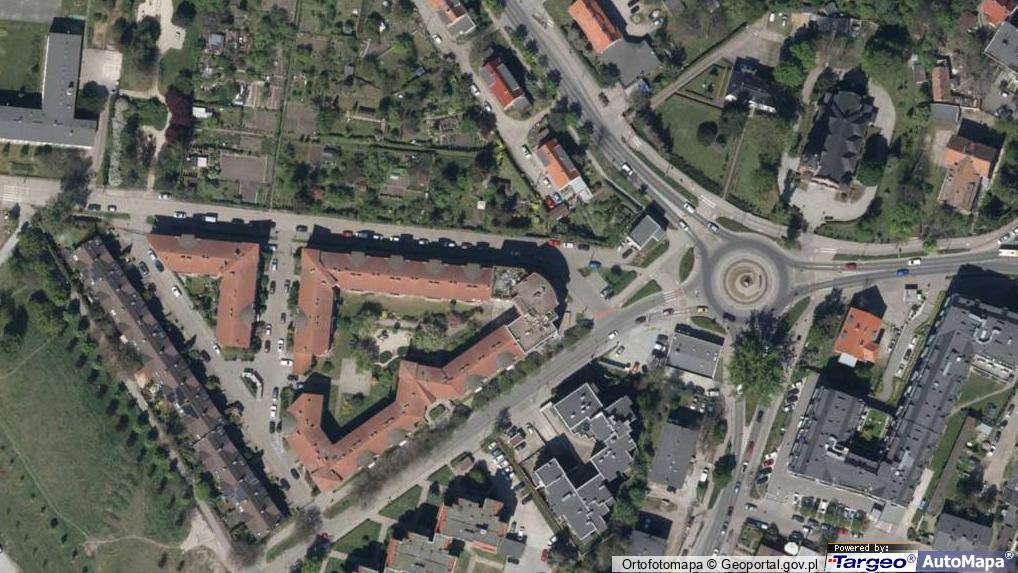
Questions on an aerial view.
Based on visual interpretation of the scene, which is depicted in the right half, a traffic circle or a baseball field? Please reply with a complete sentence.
You can see a traffic circle in the right half.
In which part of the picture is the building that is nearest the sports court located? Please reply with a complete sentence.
The building that is nearest the sports court sits in the top left section of the image.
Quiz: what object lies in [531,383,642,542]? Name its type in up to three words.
building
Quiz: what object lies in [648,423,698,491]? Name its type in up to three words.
building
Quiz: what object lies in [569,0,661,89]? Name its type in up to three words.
house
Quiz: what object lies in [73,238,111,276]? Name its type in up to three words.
house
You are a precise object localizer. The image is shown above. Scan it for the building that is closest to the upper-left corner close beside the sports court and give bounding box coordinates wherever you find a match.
[0,33,97,149]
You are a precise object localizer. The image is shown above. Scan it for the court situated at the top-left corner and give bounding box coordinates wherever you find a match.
[80,49,122,92]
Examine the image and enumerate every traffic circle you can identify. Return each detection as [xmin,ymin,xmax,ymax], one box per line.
[698,233,794,330]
